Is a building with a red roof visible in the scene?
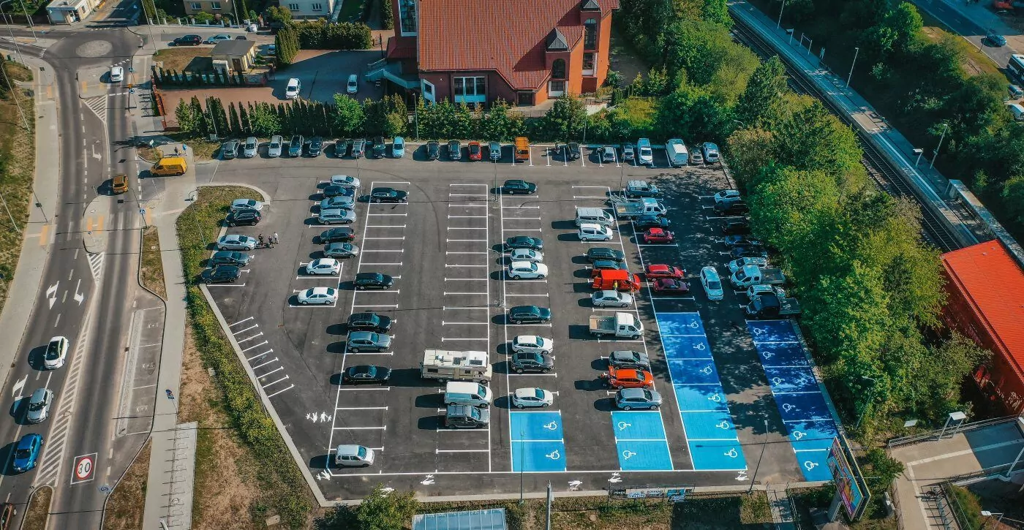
Yes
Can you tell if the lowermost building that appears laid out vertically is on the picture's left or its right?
right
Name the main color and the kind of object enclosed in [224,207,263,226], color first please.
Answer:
black car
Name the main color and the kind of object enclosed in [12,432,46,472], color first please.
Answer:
blue car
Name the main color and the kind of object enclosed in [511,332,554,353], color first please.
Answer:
white car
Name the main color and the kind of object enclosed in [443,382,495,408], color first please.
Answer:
white vehicle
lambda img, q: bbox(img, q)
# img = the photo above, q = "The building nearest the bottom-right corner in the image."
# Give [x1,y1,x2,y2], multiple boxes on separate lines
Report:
[942,234,1024,434]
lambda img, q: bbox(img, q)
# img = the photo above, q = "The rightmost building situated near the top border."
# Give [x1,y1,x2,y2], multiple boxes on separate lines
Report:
[365,0,621,108]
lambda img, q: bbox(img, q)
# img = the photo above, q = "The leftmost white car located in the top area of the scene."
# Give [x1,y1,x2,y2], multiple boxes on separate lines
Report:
[108,67,125,81]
